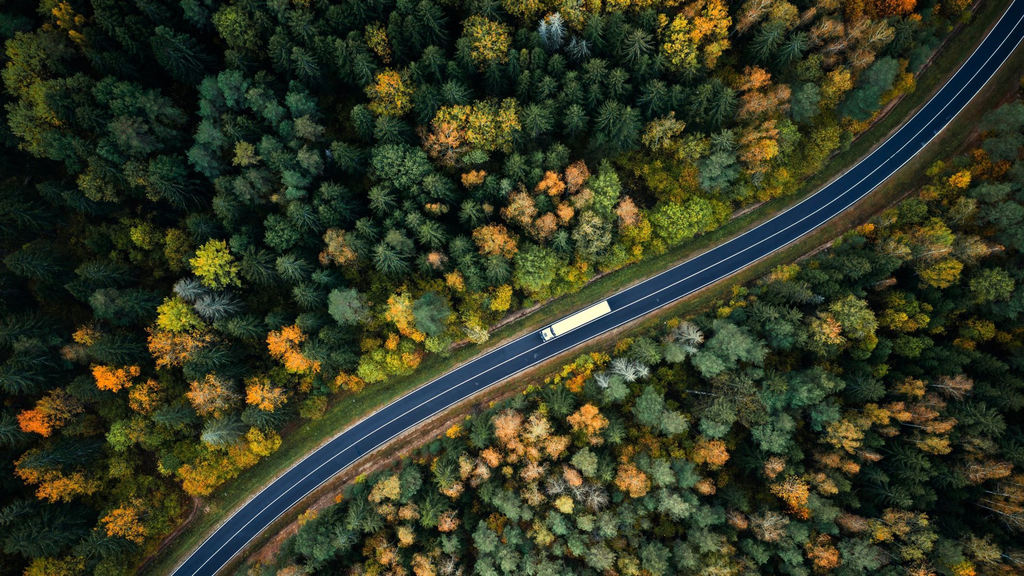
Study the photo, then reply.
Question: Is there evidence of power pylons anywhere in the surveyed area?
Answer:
No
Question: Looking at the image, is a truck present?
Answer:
Yes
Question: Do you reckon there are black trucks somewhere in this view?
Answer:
No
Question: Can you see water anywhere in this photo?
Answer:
No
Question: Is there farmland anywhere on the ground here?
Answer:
No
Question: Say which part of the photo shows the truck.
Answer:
center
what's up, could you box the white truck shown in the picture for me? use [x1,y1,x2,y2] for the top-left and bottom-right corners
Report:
[541,301,611,341]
